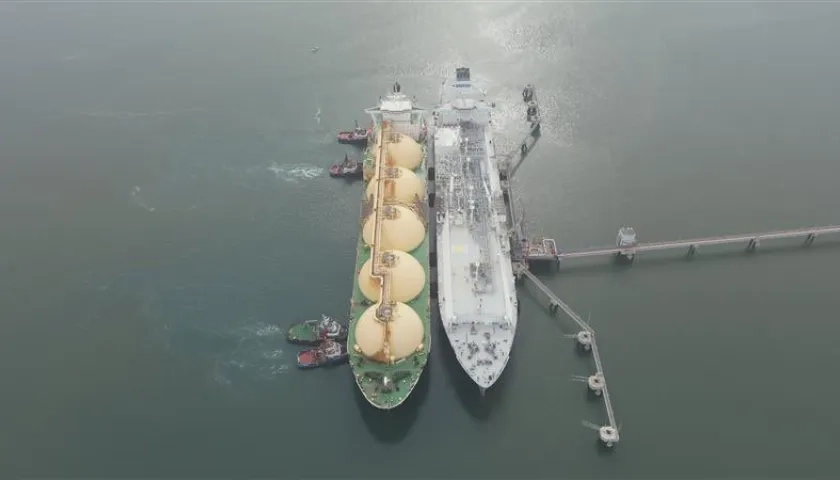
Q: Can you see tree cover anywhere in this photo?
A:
No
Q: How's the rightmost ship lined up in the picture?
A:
from top to bottom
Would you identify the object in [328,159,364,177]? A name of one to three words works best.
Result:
boat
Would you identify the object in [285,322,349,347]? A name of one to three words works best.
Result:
boat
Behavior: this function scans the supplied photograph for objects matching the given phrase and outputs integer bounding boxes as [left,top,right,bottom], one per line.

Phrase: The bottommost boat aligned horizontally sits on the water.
[294,346,349,372]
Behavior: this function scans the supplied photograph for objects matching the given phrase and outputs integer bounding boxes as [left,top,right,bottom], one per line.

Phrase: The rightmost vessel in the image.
[431,68,517,399]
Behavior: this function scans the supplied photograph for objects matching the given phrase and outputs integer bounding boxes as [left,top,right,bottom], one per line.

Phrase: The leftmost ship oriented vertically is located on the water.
[347,81,431,409]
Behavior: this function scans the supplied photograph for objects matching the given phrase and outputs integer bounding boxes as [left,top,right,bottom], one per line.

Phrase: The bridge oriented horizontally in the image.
[557,226,840,262]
